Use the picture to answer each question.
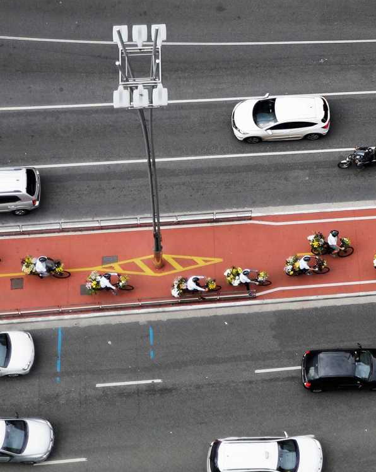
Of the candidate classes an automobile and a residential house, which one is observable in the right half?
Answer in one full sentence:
The feature located in the right half is an automobile.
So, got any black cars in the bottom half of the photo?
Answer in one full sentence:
Yes, looking in the bottom half of the photo, one can make out a black car.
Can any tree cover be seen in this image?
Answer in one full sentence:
No, there is no tree cover in the image.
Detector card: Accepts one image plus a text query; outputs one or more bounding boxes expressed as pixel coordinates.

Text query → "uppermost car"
[231,92,331,144]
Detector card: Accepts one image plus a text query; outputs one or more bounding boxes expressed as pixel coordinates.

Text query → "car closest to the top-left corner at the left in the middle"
[0,167,41,216]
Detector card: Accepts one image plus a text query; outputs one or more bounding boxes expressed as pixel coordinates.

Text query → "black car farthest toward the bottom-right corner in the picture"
[300,341,376,394]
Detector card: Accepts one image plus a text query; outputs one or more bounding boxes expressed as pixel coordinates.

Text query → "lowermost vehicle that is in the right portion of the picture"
[206,423,323,472]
